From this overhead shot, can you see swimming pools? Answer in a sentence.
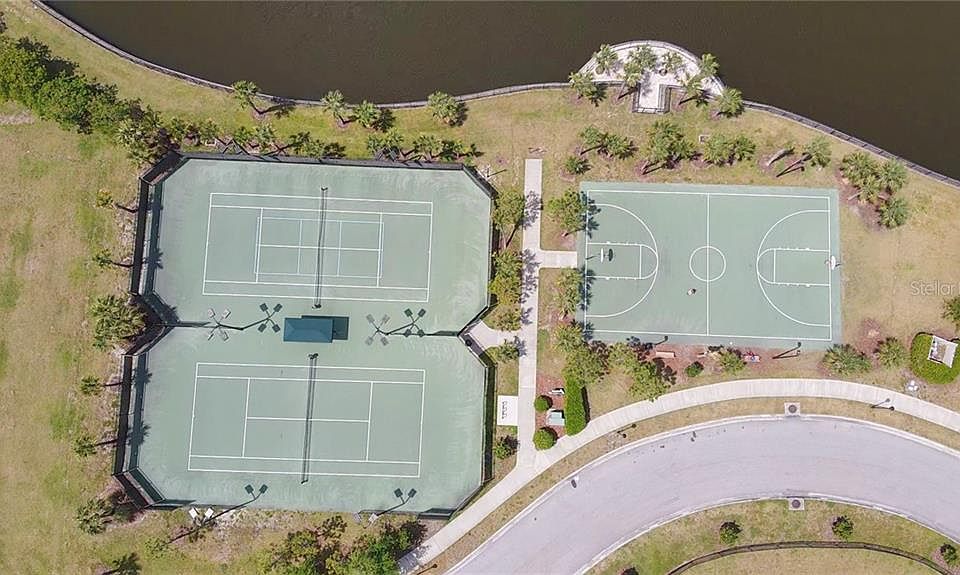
No, the photo shows no swimming pool.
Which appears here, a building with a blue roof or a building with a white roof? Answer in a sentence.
Of the two, only a building with a blue roof appears.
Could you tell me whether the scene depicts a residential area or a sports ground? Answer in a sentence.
What you see here is a sports ground.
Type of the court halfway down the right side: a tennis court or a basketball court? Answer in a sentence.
Specifically, the court halfway down the right side is a basketball court.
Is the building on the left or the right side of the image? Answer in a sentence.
You can find the building on the left side of the picture.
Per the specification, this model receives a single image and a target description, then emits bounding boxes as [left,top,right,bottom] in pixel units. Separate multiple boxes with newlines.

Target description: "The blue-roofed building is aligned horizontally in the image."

[283,318,335,343]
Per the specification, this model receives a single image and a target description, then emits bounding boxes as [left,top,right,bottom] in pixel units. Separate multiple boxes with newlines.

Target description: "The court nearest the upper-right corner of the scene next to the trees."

[576,181,843,350]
